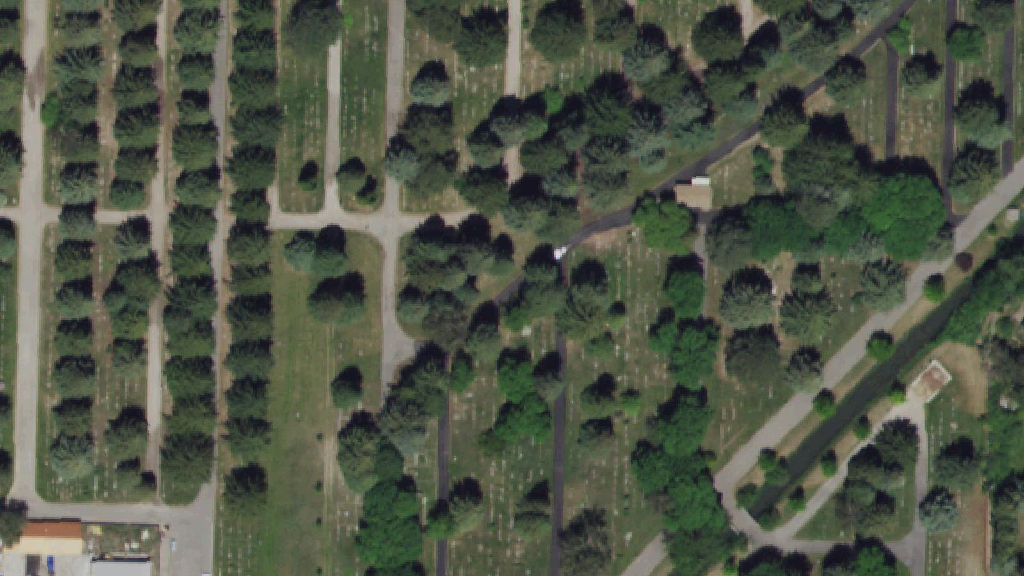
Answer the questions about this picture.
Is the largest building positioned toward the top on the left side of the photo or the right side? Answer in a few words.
right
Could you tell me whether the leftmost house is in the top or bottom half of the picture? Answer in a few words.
bottom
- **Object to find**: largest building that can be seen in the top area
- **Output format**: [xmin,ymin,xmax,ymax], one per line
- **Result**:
[676,177,712,210]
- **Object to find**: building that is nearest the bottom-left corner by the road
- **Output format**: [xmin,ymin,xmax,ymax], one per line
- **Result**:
[17,522,81,554]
